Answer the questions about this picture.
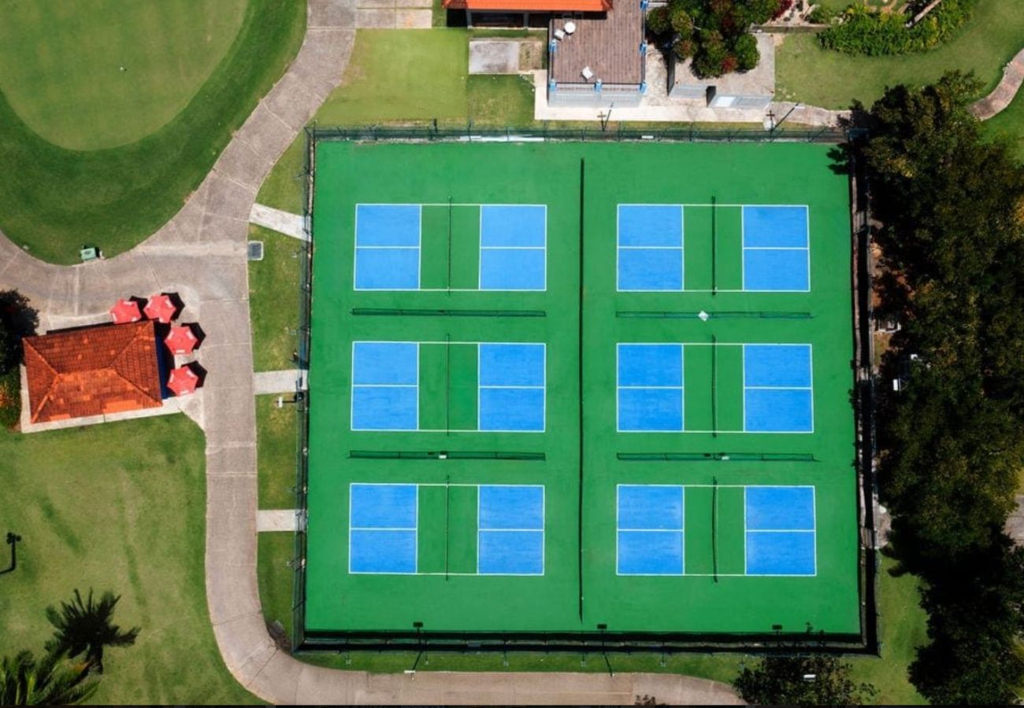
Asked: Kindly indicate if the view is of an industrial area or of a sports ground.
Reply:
sports ground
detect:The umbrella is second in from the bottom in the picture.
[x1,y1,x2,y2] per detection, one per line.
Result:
[166,326,199,354]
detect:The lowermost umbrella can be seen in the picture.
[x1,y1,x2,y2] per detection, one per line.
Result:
[168,366,200,396]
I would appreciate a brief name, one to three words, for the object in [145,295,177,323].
umbrella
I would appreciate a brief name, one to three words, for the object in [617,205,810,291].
sports court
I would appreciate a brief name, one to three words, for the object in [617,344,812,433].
sports court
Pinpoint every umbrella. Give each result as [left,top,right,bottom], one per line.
[111,296,144,325]
[145,295,177,323]
[166,326,199,354]
[168,366,200,396]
